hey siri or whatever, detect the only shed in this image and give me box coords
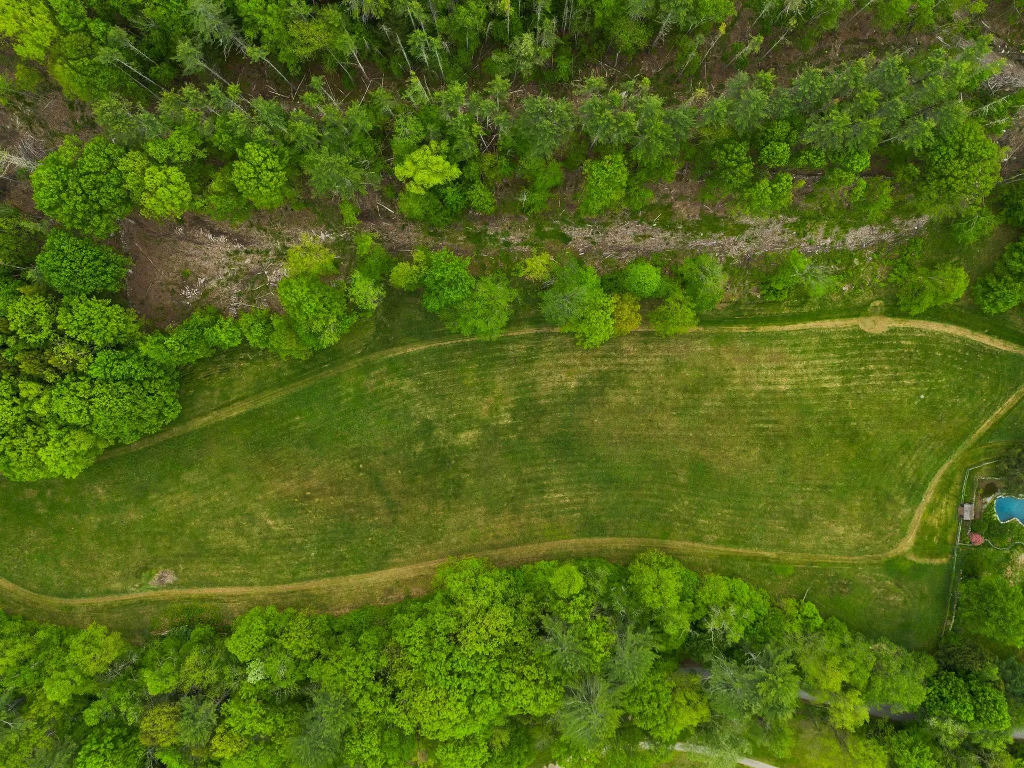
[958,505,979,523]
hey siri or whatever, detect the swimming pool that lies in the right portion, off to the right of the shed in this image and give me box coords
[994,495,1024,526]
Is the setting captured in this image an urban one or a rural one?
rural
